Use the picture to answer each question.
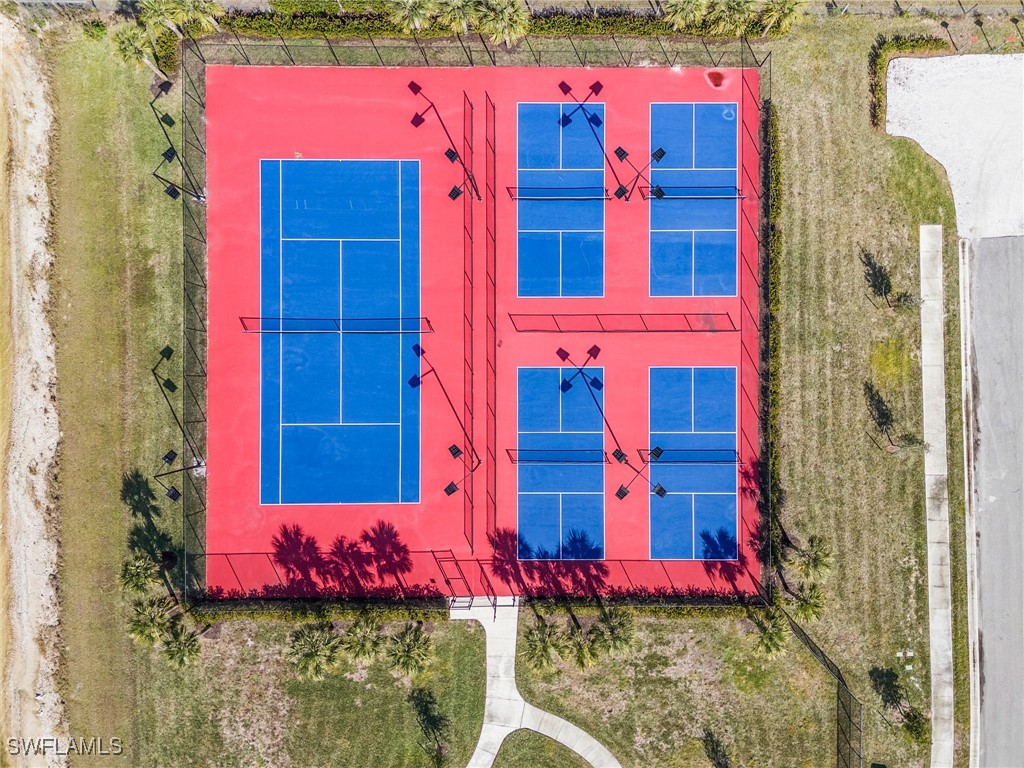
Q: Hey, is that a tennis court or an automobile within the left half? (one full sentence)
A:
Looking within the left half, you will find a tennis court.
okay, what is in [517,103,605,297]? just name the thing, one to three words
sports court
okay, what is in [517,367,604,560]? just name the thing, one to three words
sports court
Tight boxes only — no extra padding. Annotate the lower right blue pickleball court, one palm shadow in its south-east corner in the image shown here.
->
[650,367,737,560]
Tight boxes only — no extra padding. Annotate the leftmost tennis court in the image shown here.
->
[260,160,419,504]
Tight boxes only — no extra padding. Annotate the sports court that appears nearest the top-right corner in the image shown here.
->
[650,103,738,297]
